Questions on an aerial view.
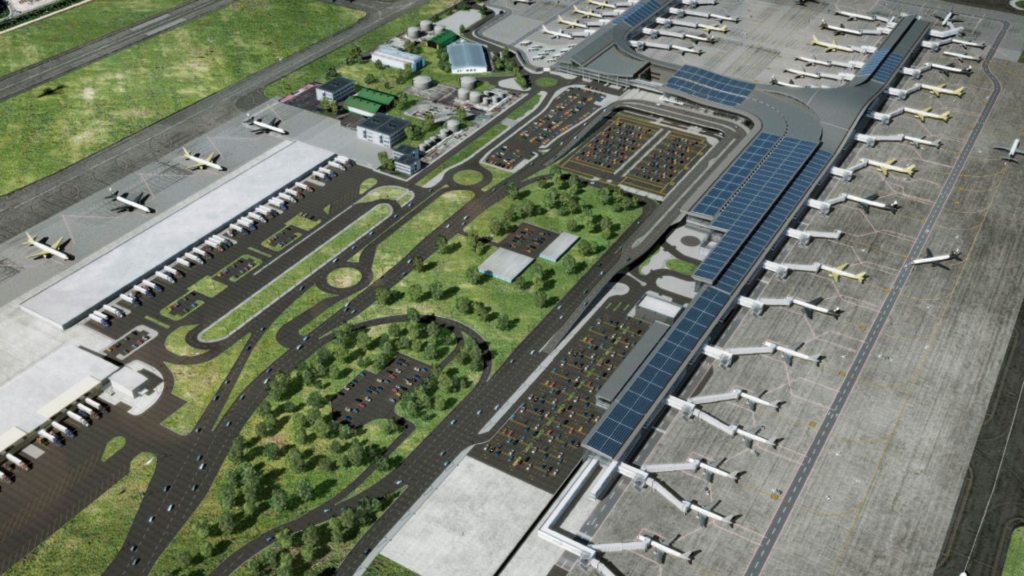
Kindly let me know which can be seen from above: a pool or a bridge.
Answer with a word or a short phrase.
bridge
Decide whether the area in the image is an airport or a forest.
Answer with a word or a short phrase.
airport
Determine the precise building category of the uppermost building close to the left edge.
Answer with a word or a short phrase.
warehouse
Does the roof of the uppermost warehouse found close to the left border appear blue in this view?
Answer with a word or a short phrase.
No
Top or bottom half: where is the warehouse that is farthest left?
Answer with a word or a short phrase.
bottom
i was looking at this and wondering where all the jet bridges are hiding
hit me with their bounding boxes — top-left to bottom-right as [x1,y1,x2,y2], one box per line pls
[617,459,701,513]
[601,10,627,20]
[922,37,954,56]
[642,29,685,42]
[629,41,671,54]
[901,62,933,83]
[830,159,871,186]
[703,345,777,372]
[738,296,796,320]
[885,83,923,105]
[787,229,843,250]
[764,260,822,282]
[615,0,640,10]
[855,134,906,151]
[572,32,598,41]
[927,22,965,43]
[866,106,907,128]
[681,0,719,11]
[669,8,711,21]
[586,21,612,30]
[850,46,874,54]
[581,536,651,576]
[873,16,895,29]
[807,193,849,220]
[668,390,743,436]
[655,19,698,32]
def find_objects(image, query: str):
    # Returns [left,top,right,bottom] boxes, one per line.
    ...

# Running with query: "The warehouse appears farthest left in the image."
[0,345,121,468]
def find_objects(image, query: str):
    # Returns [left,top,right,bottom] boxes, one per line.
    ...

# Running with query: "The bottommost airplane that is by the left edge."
[20,229,69,261]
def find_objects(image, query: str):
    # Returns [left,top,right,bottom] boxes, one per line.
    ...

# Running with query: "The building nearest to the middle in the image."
[479,246,535,283]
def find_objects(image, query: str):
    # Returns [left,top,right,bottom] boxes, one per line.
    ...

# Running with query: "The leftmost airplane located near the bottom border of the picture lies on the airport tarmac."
[637,531,694,567]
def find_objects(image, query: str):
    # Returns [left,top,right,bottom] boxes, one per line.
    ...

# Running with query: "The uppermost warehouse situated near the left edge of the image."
[20,140,337,332]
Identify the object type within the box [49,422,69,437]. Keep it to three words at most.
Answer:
vehicle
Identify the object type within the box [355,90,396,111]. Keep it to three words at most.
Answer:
shed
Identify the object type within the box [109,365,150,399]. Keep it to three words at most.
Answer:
building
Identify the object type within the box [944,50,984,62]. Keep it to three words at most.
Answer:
airplane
